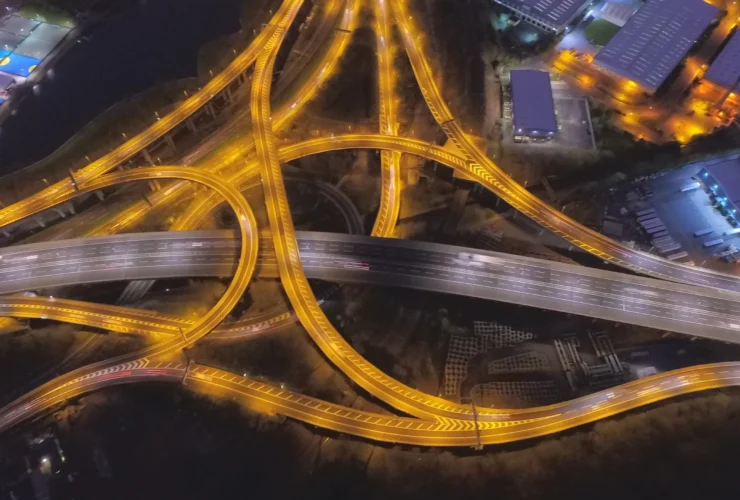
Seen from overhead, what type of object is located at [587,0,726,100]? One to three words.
building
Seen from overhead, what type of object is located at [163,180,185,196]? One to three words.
vehicle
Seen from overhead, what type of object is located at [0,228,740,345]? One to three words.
bridge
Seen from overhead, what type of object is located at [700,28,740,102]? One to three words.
building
